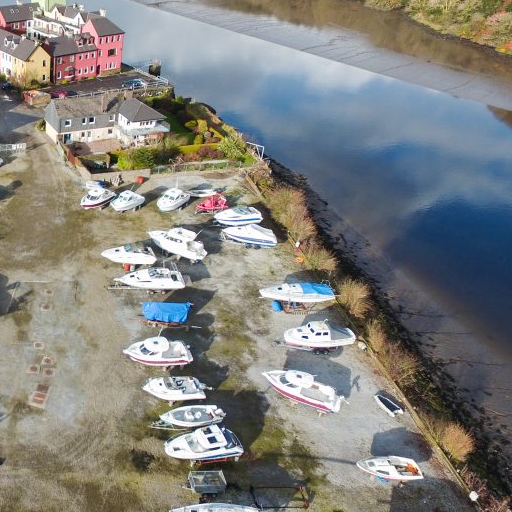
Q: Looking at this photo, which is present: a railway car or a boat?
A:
boat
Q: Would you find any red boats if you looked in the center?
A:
Yes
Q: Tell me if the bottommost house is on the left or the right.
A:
left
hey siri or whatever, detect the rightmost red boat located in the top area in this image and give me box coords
[194,194,233,214]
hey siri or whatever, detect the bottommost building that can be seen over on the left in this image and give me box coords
[54,86,170,152]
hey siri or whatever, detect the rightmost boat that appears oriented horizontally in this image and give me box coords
[358,457,424,487]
